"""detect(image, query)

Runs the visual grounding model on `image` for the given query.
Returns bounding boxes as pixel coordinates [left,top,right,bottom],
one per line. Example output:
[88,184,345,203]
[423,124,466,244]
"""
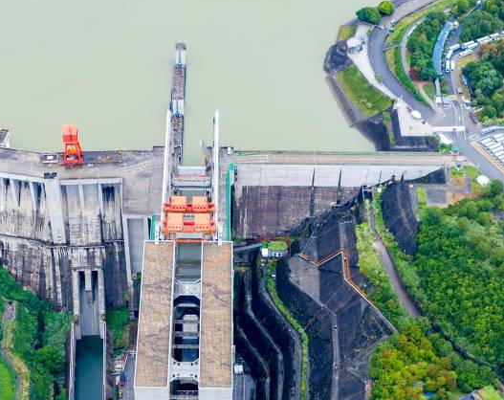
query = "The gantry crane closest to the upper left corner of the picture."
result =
[59,118,85,165]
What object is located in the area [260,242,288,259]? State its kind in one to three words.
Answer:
building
